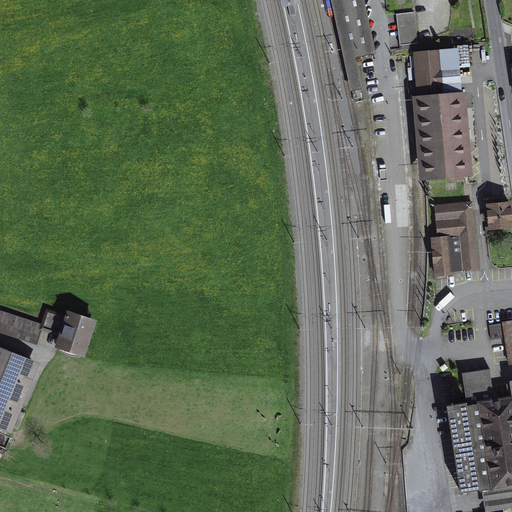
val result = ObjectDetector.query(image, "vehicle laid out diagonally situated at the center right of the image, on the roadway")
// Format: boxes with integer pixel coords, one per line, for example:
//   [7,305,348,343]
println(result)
[436,292,454,310]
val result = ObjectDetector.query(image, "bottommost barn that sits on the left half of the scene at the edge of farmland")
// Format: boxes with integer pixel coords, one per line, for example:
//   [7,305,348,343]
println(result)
[0,348,40,433]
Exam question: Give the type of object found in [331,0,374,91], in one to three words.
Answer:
shed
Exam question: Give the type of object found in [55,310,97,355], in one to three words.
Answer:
house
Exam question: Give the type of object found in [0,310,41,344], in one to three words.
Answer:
barn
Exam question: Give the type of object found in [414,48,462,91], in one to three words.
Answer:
building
